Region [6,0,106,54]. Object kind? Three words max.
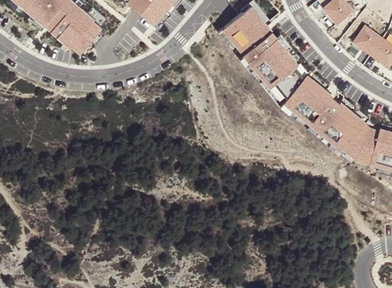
building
